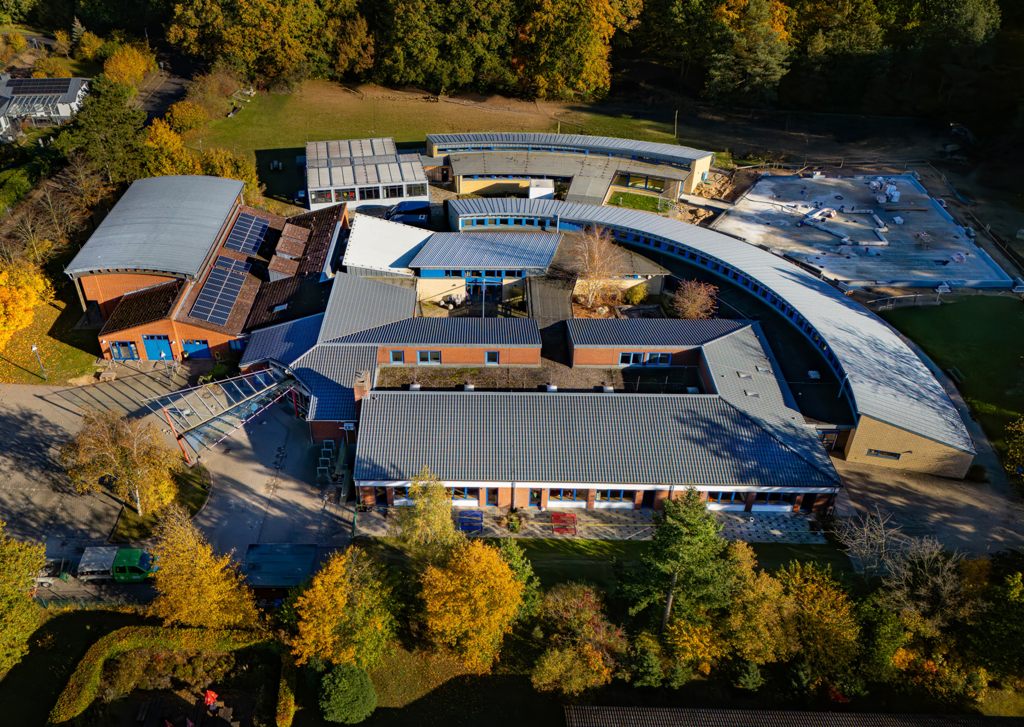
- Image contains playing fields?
Yes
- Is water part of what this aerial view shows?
No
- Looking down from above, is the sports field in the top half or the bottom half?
top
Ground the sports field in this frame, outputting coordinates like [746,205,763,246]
[190,79,943,221]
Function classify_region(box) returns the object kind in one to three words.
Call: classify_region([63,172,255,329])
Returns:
building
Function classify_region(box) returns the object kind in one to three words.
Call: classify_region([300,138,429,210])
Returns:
building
